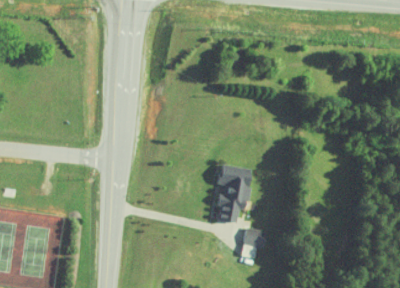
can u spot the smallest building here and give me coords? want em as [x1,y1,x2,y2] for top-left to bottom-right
[240,228,260,259]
